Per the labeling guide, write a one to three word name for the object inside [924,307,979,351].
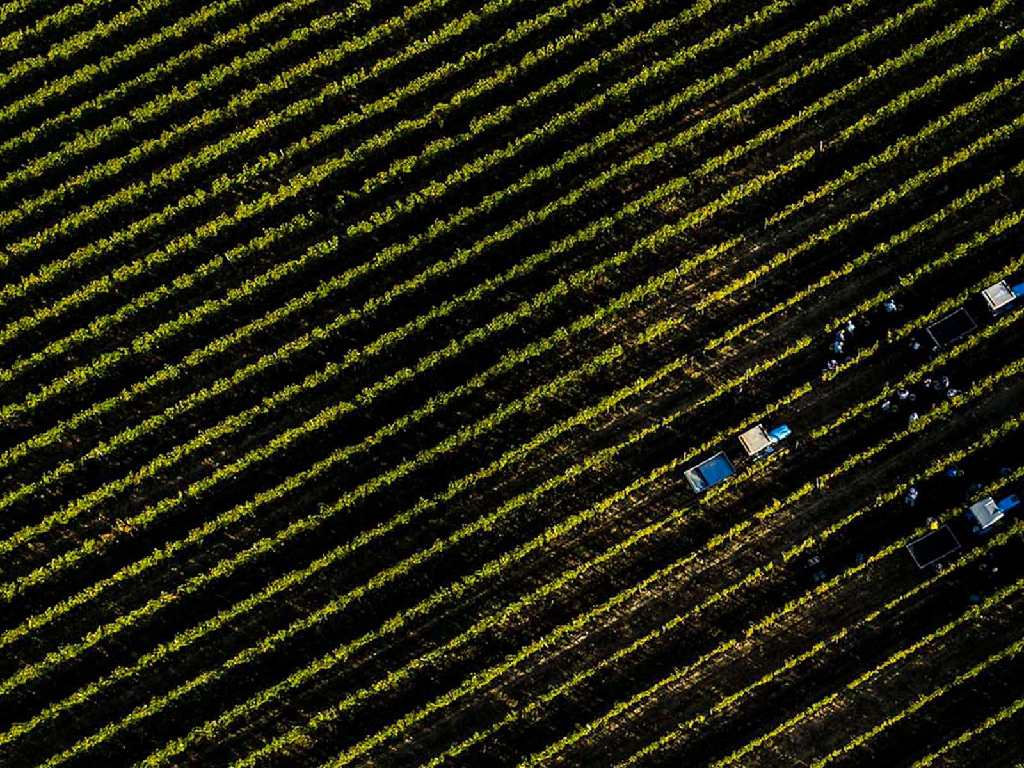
trailer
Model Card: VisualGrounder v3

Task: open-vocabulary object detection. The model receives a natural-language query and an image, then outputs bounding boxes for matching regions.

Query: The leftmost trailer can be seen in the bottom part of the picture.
[683,450,739,496]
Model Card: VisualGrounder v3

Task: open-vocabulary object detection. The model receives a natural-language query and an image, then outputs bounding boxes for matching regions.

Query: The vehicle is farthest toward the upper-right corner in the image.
[976,281,1024,322]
